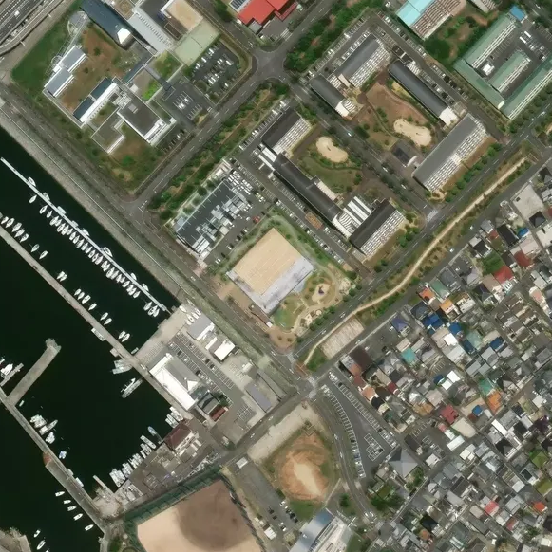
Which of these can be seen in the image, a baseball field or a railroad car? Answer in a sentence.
The one in the frame is a baseball field.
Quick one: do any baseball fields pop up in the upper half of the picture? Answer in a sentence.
No, no baseball field is visible in the upper half of the picture.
